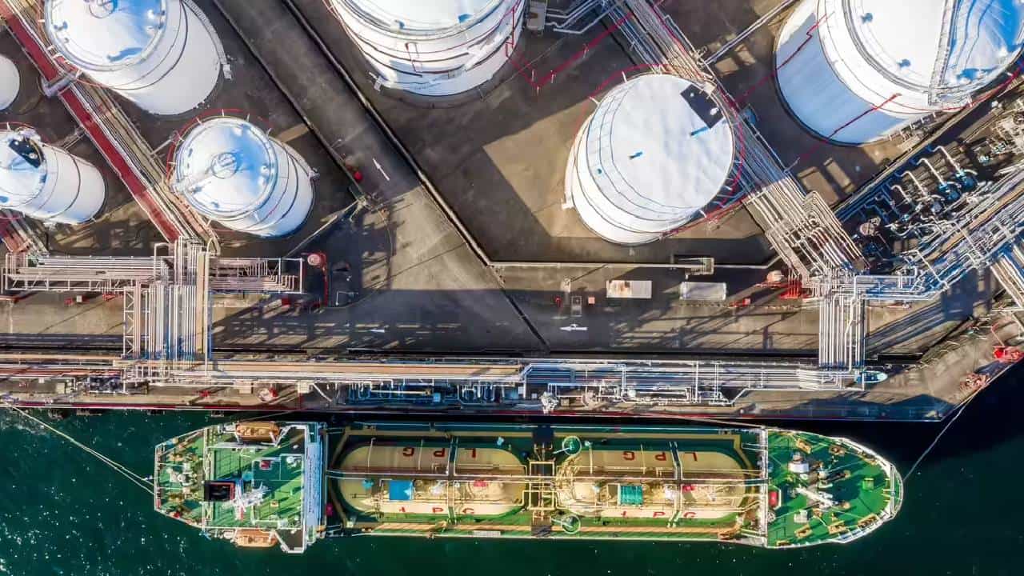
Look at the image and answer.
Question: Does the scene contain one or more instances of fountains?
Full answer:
No, the picture doesn't show any fountain.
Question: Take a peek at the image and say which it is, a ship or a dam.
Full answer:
The one in the frame is a ship.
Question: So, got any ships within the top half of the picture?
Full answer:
No, I see no ship within the top half of the picture.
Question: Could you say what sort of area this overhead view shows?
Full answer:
It's an industrial area.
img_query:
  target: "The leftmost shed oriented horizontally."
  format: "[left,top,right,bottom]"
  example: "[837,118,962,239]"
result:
[604,280,652,299]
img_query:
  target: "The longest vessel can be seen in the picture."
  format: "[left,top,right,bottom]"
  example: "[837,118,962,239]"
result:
[155,418,903,557]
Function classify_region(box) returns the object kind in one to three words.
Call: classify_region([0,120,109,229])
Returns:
storage tank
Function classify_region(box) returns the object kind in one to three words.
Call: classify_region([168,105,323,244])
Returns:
storage tank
